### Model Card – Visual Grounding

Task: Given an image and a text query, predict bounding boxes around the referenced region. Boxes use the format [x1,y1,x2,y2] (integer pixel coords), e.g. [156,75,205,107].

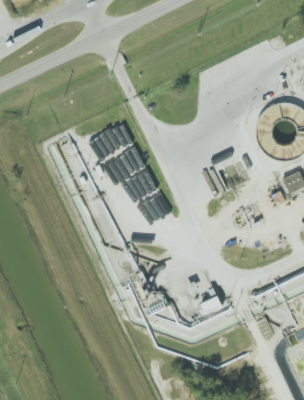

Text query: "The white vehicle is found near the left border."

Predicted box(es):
[6,24,46,46]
